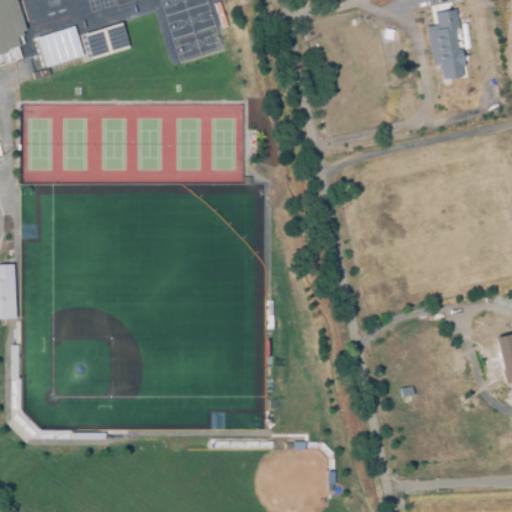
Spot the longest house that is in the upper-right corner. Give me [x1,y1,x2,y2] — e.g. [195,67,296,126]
[429,2,468,85]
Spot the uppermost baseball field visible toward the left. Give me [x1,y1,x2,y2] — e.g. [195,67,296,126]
[22,185,266,430]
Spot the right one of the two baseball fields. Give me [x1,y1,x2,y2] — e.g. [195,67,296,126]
[256,448,329,512]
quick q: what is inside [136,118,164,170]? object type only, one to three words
tennis court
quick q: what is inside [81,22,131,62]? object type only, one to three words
building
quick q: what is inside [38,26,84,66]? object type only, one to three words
building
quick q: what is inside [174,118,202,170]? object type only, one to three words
tennis court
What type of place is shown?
sports ground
